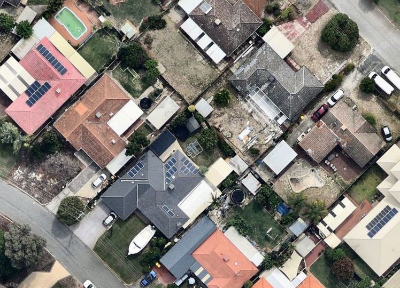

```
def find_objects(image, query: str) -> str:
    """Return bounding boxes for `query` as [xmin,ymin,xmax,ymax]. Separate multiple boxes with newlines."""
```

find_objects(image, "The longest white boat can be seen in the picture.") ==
[130,223,156,255]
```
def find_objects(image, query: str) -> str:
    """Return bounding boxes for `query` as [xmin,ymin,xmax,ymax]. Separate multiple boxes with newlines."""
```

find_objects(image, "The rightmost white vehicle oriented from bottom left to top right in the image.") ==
[328,88,344,106]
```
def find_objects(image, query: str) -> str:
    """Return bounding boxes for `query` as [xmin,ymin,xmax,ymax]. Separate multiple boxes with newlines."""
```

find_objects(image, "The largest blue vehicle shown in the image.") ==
[141,269,156,287]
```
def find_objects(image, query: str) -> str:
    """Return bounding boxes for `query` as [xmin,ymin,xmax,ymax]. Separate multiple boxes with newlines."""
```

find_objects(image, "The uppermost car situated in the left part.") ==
[92,171,107,189]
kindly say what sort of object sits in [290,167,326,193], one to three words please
swimming pool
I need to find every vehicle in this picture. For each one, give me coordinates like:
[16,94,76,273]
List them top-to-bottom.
[383,64,400,90]
[371,70,394,96]
[328,88,344,106]
[313,103,328,121]
[382,124,392,142]
[92,171,107,189]
[102,209,117,226]
[141,269,156,287]
[84,279,97,288]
